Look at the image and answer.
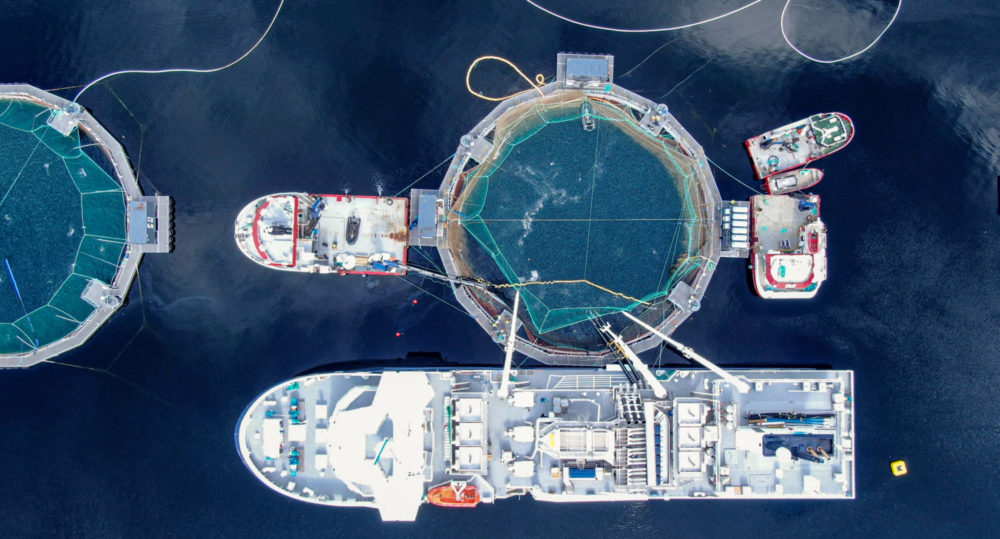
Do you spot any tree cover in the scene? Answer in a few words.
No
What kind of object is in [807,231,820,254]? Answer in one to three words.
boat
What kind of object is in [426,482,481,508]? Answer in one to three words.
boat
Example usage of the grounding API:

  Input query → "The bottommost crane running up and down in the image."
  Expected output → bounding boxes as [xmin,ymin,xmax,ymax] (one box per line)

[495,288,519,401]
